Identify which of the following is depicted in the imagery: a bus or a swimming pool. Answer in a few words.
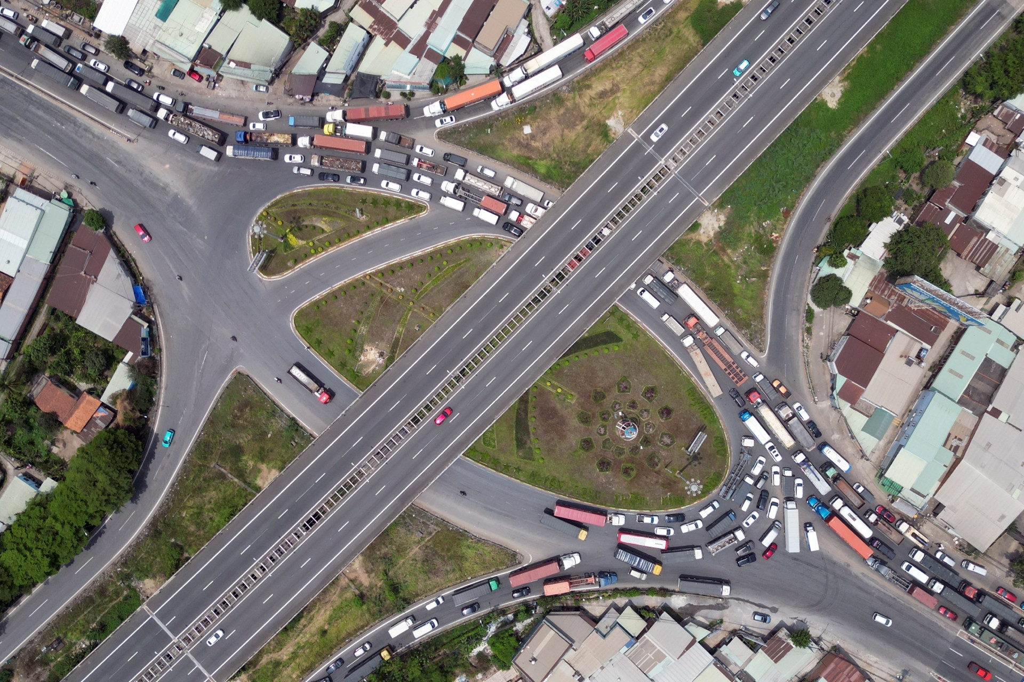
bus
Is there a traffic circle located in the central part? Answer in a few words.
Yes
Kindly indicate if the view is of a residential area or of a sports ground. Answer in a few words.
residential area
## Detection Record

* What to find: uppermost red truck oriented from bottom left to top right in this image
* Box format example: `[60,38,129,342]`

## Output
[581,27,629,64]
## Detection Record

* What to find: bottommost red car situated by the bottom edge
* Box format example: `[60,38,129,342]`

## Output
[967,661,990,680]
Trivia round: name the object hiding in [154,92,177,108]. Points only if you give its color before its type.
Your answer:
white car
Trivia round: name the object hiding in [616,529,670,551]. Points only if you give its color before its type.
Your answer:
white bus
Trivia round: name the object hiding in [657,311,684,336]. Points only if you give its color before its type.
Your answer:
white truck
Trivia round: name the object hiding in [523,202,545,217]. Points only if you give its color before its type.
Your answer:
white vehicle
